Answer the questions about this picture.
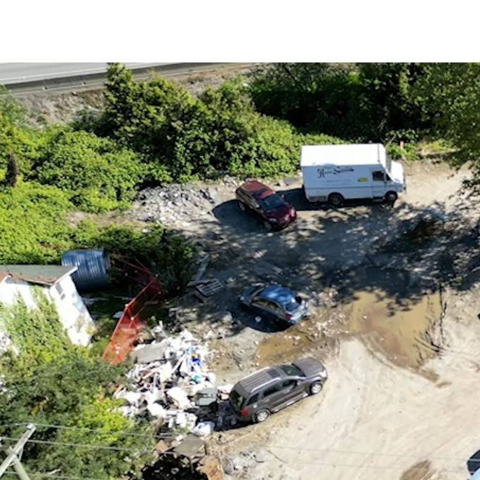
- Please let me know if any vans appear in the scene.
Yes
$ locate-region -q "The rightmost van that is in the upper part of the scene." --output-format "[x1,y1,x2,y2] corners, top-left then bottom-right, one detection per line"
[292,141,405,206]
